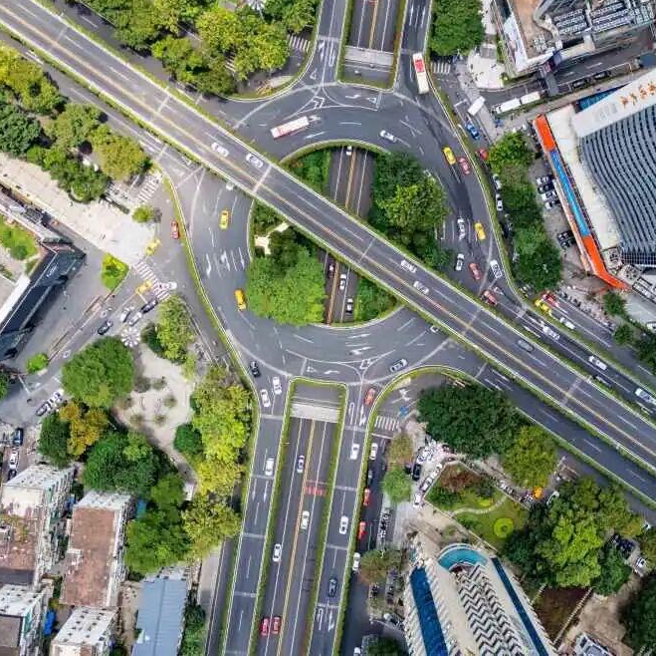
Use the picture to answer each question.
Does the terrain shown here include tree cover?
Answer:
Yes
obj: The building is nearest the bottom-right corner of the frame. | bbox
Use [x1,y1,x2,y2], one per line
[567,622,615,656]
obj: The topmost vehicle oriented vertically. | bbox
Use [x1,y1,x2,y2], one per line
[412,53,430,96]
